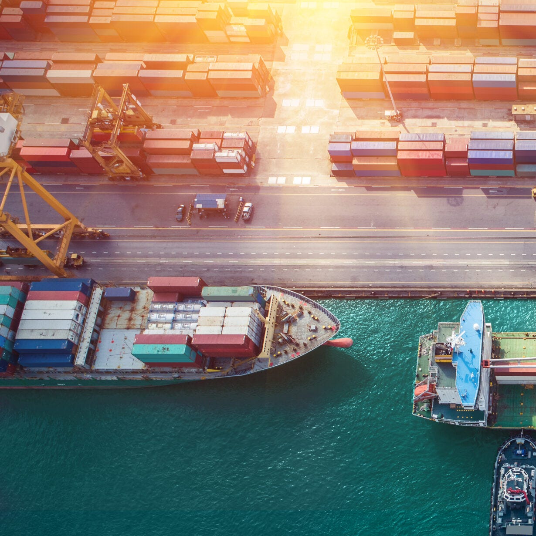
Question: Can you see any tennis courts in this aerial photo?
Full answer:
No, the picture doesn't show any tennis court.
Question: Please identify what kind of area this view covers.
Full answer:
This image shows a port.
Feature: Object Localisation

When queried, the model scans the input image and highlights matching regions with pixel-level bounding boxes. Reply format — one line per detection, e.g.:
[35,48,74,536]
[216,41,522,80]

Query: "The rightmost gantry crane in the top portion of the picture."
[82,77,165,183]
